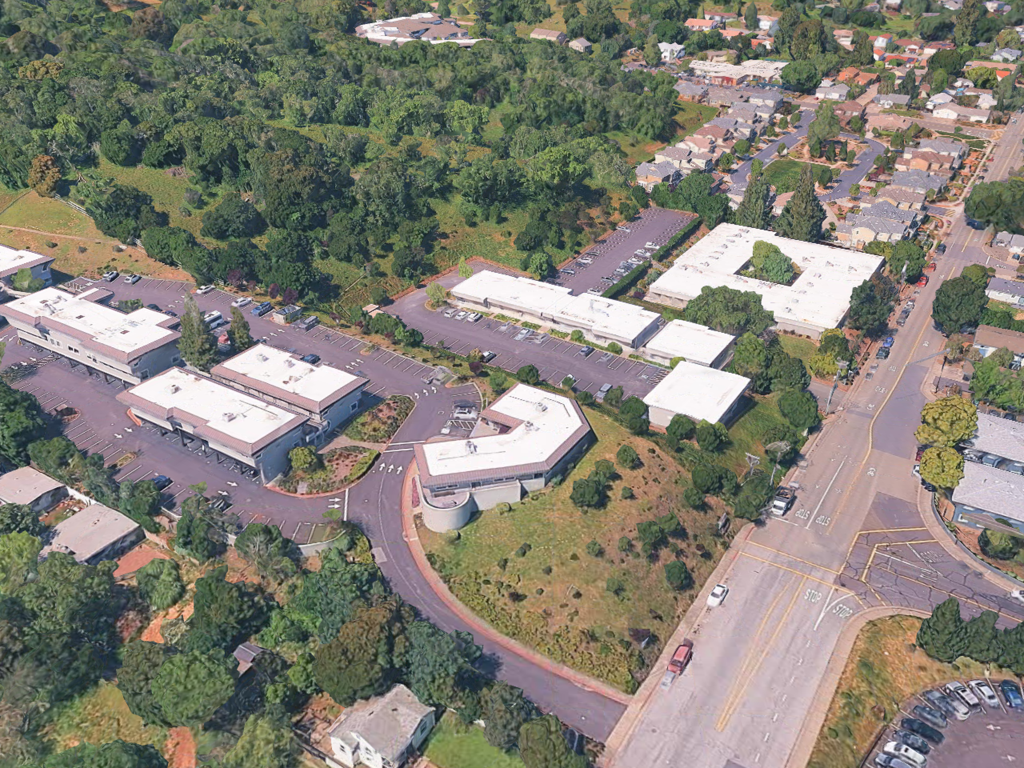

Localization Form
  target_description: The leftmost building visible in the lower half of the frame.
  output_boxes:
[0,466,66,510]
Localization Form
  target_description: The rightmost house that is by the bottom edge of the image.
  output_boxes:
[309,675,432,768]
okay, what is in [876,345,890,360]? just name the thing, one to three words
car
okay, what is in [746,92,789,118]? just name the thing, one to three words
house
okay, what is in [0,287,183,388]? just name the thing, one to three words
building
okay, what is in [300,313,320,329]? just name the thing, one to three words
vehicle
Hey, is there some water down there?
No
